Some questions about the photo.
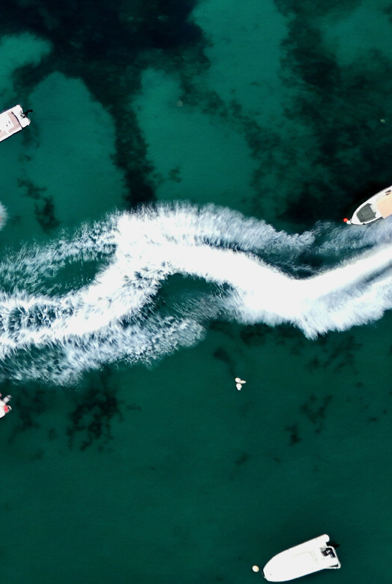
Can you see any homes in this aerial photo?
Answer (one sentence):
No, I find no home anywhere in the image.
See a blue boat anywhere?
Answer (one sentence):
No, I find no blue boat anywhere in the image.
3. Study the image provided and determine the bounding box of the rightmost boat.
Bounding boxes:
[350,186,392,225]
